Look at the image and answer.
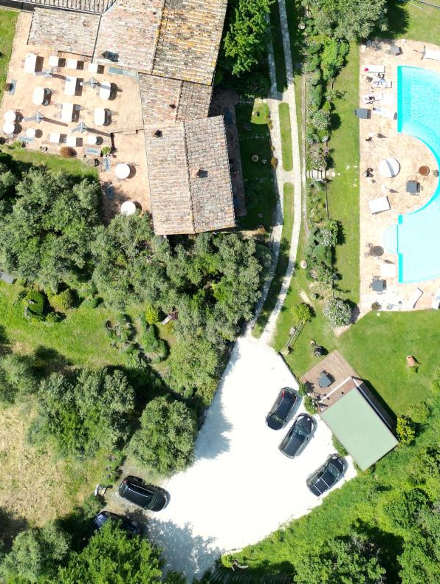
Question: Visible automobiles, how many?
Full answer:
My tally gives 5 automobiles in this view.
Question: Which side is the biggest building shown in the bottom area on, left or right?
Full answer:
It is on the right.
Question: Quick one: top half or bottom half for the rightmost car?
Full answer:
You can find the rightmost car in the bottom half.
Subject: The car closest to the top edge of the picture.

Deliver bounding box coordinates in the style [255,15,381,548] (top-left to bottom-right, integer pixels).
[264,383,302,432]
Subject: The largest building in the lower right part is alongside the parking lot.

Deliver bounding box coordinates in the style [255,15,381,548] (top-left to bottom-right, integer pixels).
[320,380,400,469]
